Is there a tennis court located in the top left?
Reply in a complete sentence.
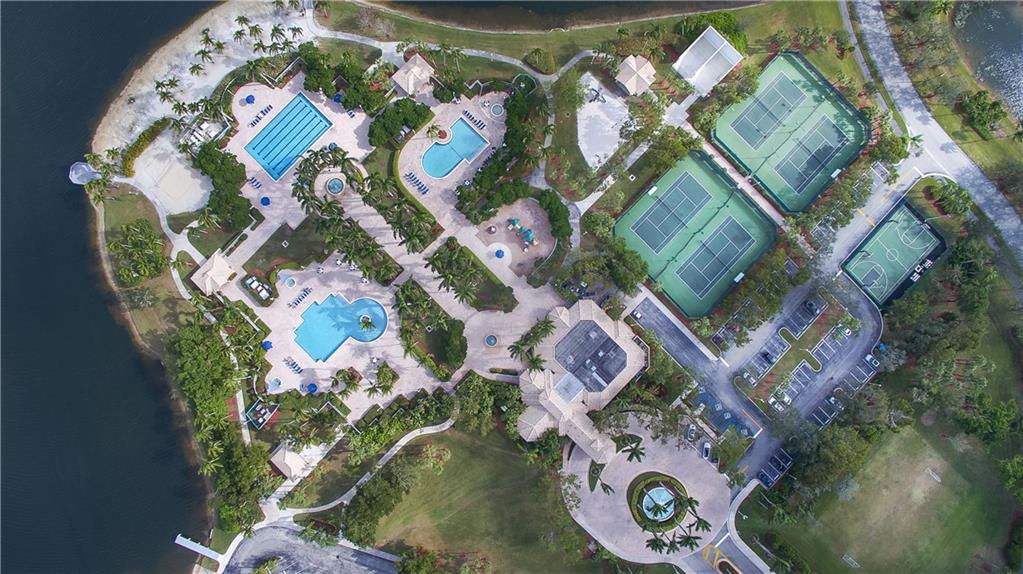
No, there is no tennis court in the top left.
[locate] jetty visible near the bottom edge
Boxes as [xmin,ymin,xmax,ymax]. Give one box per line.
[175,534,221,562]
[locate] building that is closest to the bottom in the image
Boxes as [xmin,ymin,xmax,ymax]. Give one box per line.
[269,445,308,482]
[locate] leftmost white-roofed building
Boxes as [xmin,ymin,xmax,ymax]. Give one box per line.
[189,249,236,295]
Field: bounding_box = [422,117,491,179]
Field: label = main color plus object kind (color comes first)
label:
blue swimming pool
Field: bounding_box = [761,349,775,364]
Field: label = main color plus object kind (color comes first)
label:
blue vehicle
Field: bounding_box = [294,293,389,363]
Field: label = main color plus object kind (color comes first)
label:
blue swimming pool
